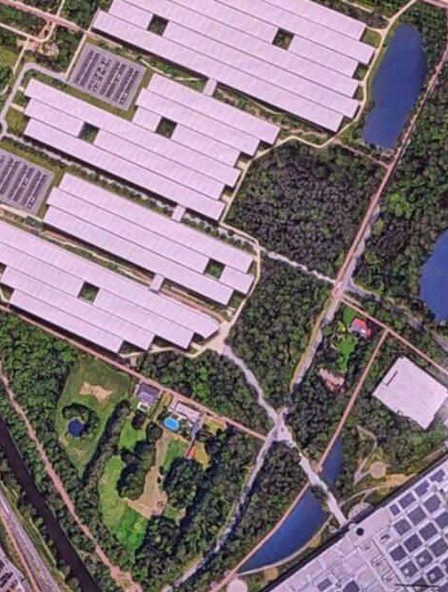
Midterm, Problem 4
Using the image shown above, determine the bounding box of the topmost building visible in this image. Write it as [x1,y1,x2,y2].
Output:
[94,0,375,131]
